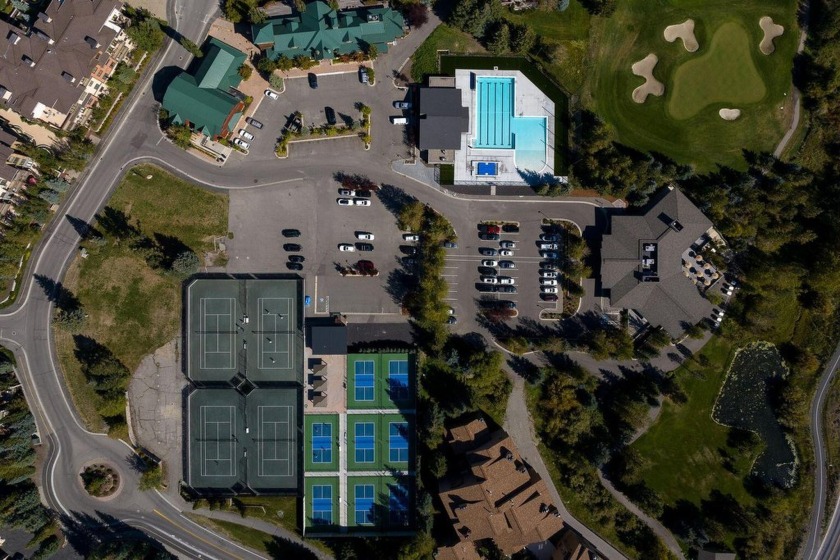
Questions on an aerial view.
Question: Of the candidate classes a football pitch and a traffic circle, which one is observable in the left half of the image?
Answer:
traffic circle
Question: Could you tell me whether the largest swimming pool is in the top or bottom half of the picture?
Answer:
top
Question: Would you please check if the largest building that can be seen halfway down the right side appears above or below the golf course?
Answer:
below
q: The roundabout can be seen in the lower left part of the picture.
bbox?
[57,436,144,523]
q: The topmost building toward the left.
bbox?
[251,0,408,62]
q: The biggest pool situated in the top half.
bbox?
[471,75,549,178]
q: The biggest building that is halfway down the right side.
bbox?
[600,188,713,341]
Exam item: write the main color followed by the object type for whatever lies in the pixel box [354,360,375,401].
blue sports court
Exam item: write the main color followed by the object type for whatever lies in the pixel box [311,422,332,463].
blue sports court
